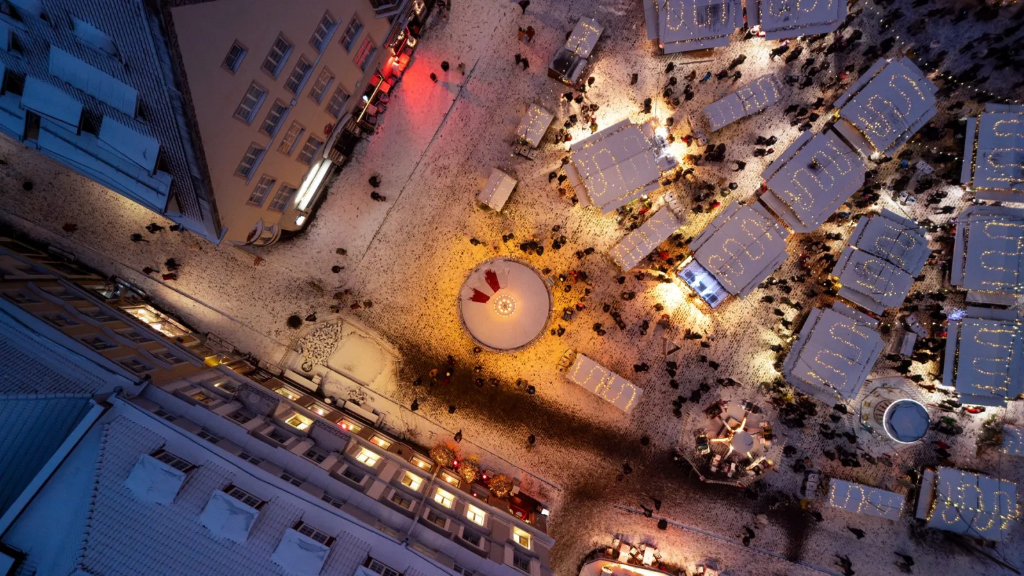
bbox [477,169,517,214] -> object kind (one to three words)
shed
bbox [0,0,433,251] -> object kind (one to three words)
house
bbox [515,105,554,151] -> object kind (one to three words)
shed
